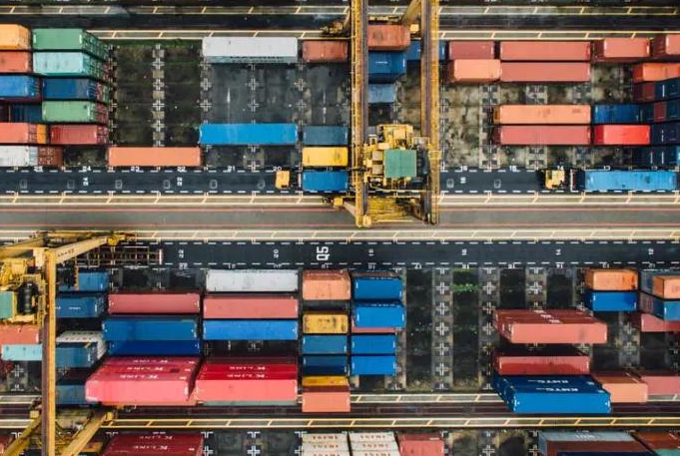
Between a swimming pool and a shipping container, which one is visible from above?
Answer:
shipping container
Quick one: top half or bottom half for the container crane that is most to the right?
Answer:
top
